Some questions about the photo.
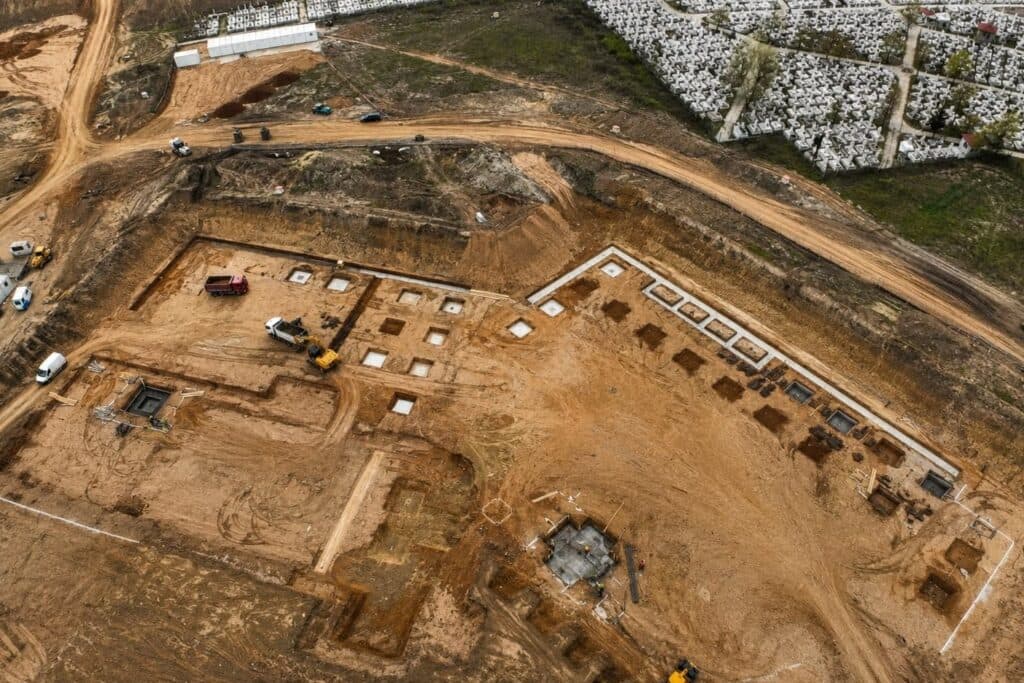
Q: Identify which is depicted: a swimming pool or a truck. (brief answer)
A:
truck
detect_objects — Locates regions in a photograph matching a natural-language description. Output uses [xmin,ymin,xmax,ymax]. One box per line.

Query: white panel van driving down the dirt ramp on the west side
[29,348,68,385]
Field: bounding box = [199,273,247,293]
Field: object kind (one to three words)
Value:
vehicle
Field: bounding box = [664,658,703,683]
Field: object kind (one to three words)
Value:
work vehicle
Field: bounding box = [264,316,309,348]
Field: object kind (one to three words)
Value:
truck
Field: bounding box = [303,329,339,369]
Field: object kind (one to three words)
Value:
work vehicle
